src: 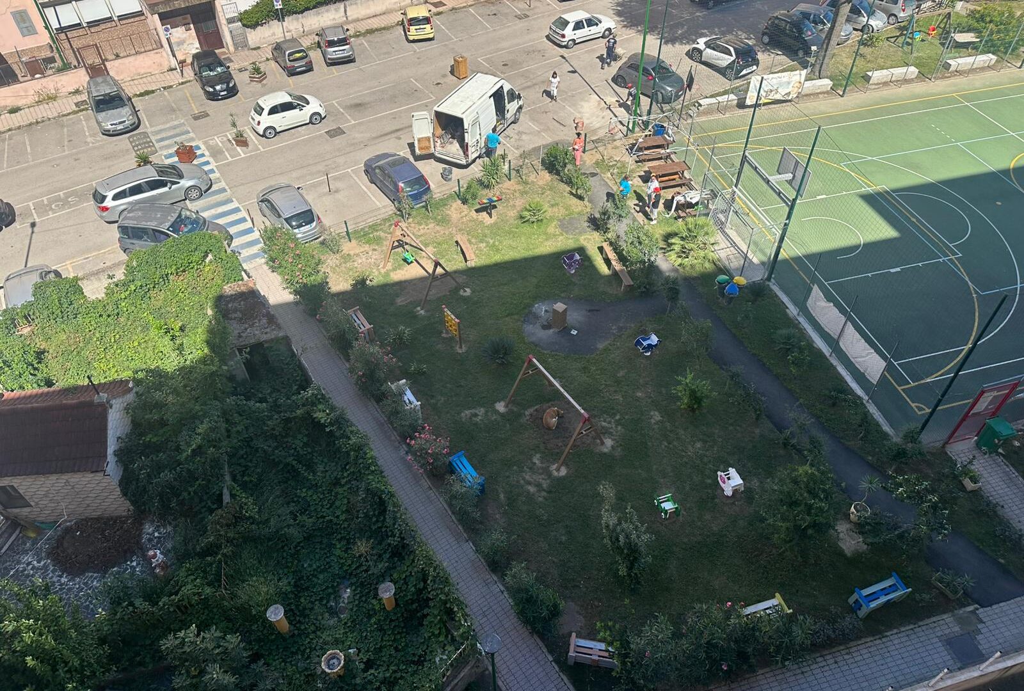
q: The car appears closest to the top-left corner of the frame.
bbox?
[86,71,138,135]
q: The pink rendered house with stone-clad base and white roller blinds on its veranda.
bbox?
[0,0,158,87]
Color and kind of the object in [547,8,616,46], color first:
white car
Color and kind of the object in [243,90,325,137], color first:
white car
